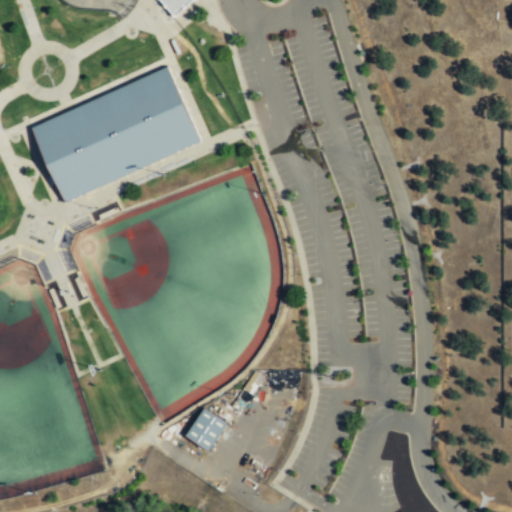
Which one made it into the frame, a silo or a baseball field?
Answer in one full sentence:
It is a baseball field that can be seen here.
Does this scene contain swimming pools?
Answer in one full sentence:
No, I can see no swimming pool in this picture.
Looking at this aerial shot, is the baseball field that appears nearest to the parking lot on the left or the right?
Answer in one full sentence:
The baseball field that appears nearest to the parking lot sits on the left side.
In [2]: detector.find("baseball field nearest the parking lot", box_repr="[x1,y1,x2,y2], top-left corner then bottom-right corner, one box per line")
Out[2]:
[68,164,284,425]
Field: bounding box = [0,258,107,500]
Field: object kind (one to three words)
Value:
baseball field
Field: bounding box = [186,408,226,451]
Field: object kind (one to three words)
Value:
shed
